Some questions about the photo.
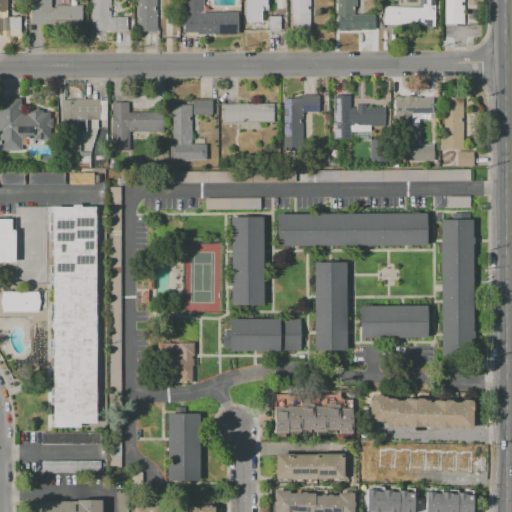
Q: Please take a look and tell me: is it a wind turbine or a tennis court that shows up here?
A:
tennis court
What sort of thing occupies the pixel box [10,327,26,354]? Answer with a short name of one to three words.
swimming pool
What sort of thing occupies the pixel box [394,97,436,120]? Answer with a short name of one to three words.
house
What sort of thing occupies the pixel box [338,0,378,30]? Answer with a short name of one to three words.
house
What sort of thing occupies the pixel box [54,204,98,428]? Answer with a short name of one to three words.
building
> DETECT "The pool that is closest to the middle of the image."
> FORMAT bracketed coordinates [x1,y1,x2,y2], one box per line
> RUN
[157,262,169,293]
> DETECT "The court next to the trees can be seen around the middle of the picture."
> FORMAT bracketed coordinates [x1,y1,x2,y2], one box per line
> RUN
[186,243,222,312]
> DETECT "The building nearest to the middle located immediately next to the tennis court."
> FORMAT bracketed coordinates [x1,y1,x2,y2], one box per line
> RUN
[232,216,265,306]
